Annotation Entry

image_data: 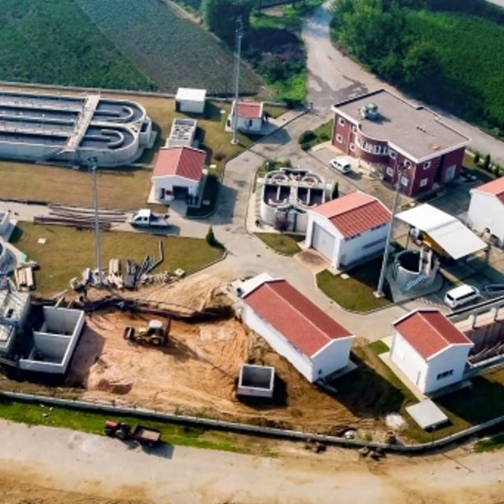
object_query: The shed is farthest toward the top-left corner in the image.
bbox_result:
[176,90,205,113]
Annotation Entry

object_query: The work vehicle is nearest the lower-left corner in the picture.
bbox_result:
[101,419,131,441]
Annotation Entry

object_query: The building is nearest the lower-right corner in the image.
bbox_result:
[390,307,474,393]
